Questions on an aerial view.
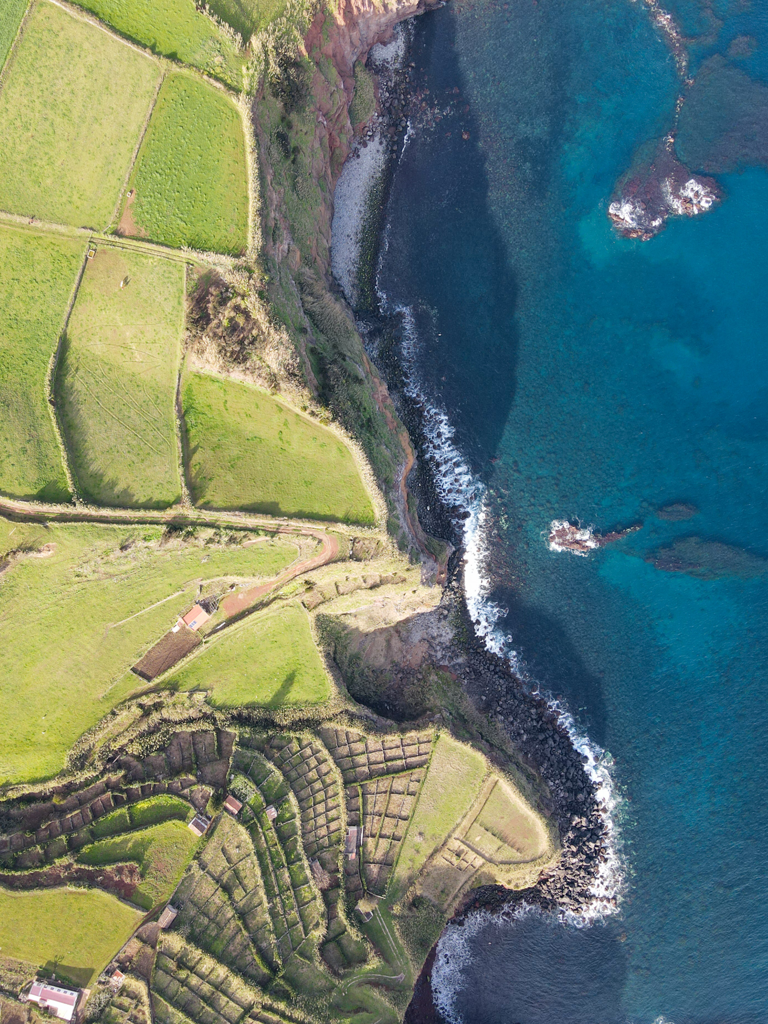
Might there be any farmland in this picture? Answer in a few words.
Yes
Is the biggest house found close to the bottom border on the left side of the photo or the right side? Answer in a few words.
left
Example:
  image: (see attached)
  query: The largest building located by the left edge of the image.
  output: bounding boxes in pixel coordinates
[29,978,81,1012]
